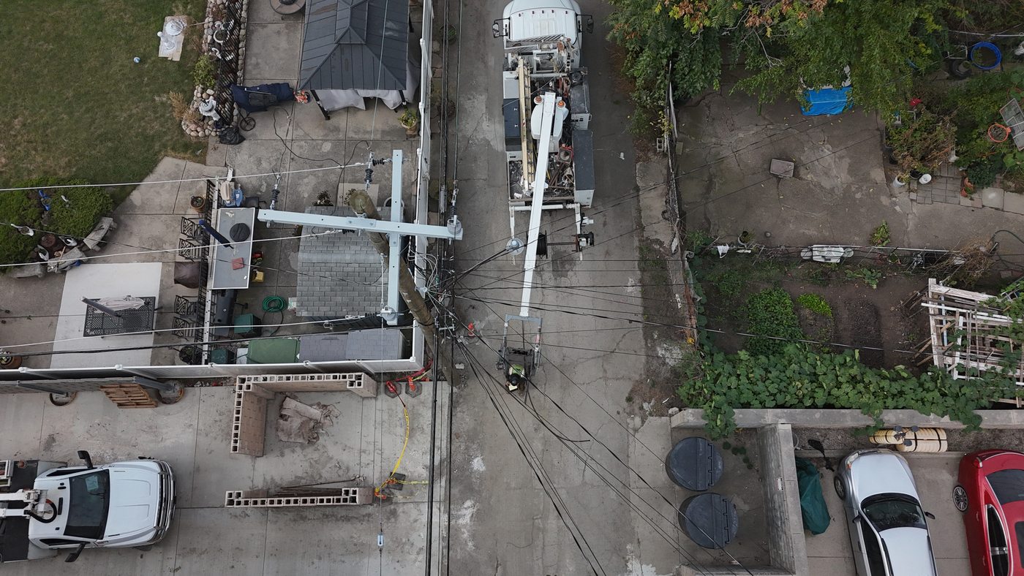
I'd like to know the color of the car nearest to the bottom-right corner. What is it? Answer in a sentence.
In this view, the car nearest to the bottom-right corner is red.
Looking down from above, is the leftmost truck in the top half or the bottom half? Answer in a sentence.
Seen from above, the leftmost truck lies in the bottom half of the view.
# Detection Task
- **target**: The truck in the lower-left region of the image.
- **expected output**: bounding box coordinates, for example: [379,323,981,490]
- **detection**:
[0,447,180,573]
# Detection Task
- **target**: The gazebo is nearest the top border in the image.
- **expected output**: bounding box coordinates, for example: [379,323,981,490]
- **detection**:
[296,0,422,132]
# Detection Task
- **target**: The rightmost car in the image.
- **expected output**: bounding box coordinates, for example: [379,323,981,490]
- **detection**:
[954,448,1024,576]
